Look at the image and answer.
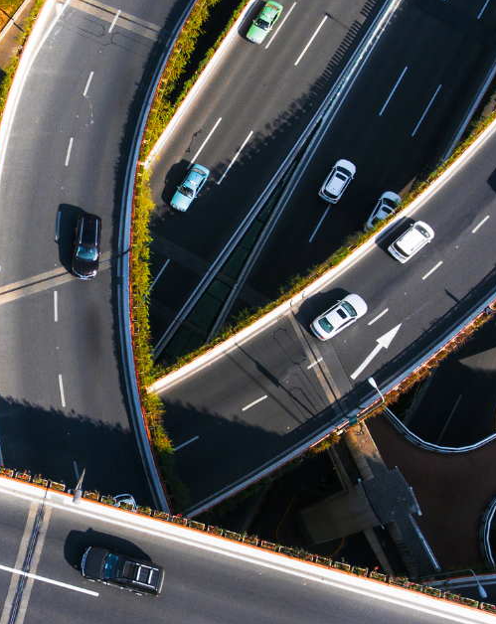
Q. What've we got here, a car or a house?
car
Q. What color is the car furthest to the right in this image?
white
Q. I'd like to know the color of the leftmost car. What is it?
black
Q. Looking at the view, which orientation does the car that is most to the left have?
vertically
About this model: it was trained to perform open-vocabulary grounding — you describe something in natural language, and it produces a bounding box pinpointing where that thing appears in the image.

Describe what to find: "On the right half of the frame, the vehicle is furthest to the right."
[385,221,437,267]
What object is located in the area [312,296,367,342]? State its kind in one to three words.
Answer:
car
